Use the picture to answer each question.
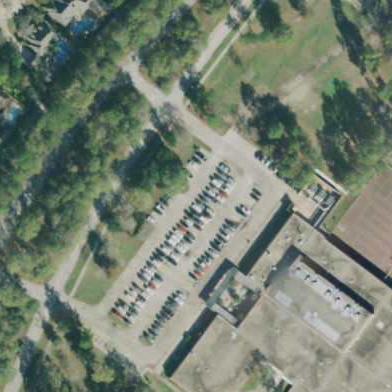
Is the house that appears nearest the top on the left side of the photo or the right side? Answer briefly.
left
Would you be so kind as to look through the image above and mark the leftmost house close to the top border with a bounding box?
[18,20,60,61]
